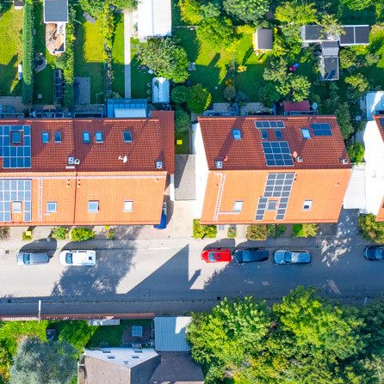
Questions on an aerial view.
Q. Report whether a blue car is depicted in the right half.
Yes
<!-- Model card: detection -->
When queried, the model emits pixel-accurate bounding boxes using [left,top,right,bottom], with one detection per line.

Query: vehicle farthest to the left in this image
[17,250,51,266]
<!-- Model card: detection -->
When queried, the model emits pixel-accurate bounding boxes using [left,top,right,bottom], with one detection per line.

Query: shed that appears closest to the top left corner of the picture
[43,0,69,24]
